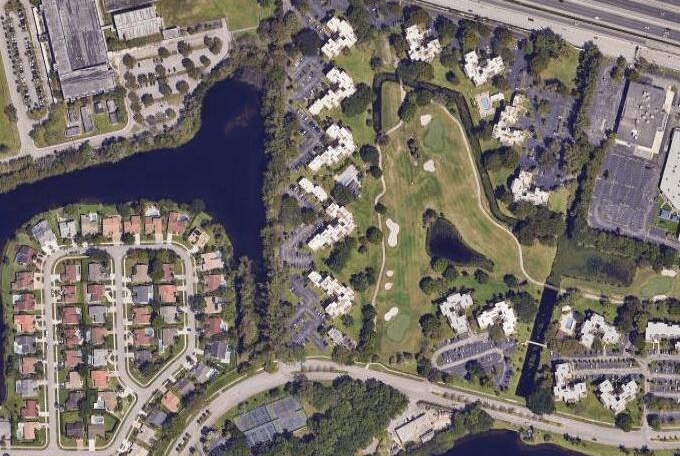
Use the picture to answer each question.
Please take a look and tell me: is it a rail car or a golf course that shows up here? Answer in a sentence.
The one in the frame is a golf course.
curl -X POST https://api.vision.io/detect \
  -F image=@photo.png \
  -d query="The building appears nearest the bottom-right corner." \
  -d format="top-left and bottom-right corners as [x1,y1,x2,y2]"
[600,380,639,414]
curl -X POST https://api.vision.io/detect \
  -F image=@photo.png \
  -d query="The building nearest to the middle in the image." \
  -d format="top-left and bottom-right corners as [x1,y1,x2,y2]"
[307,202,356,252]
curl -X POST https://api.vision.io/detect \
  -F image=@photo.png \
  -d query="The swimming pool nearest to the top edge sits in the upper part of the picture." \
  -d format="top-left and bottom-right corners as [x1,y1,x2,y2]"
[476,91,494,117]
